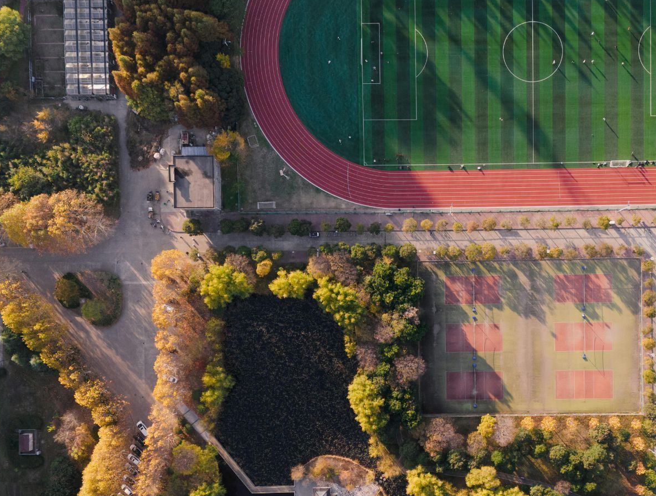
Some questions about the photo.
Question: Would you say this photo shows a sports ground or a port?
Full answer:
What you see here is a sports ground.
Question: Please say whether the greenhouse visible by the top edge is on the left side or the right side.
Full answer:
The greenhouse visible by the top edge is on the left side of the image.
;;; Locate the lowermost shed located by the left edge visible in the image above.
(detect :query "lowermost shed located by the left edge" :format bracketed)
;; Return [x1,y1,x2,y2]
[14,431,38,457]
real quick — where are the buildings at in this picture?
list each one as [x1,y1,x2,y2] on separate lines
[312,484,338,496]
[64,0,116,98]
[167,156,221,209]
[14,431,38,457]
